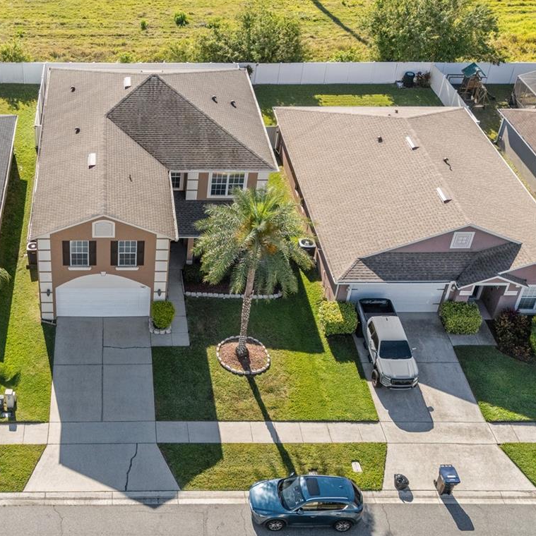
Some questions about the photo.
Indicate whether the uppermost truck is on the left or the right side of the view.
right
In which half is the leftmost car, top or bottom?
bottom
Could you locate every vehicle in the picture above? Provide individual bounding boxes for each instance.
[356,298,427,394]
[248,475,369,536]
